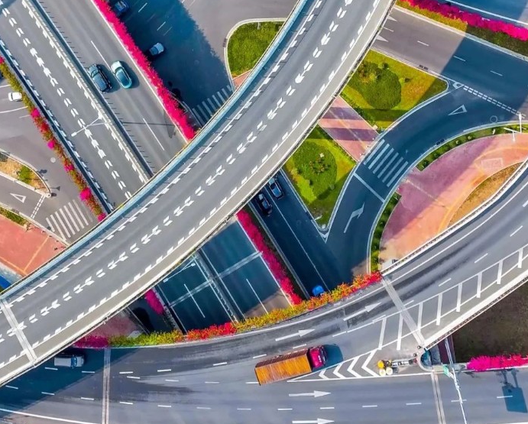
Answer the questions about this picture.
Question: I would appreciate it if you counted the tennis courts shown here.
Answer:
none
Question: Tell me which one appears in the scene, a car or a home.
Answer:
car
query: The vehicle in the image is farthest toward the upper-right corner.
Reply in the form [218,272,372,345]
[266,176,287,205]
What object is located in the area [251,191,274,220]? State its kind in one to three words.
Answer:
car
